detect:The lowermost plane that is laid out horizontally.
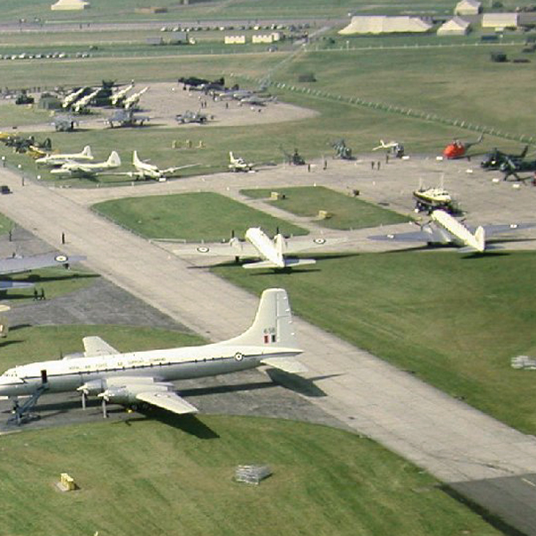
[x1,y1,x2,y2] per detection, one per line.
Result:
[0,291,307,419]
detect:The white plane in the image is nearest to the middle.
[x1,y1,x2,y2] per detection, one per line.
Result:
[174,227,350,277]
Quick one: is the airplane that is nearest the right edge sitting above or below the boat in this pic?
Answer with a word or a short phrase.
below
